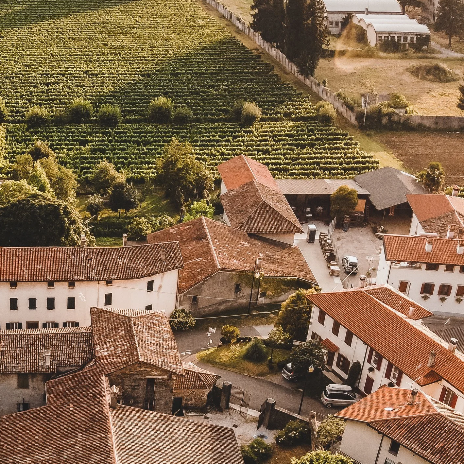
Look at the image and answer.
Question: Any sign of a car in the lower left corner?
No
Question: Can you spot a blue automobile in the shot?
No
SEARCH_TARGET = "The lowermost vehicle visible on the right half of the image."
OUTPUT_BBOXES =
[320,384,364,407]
